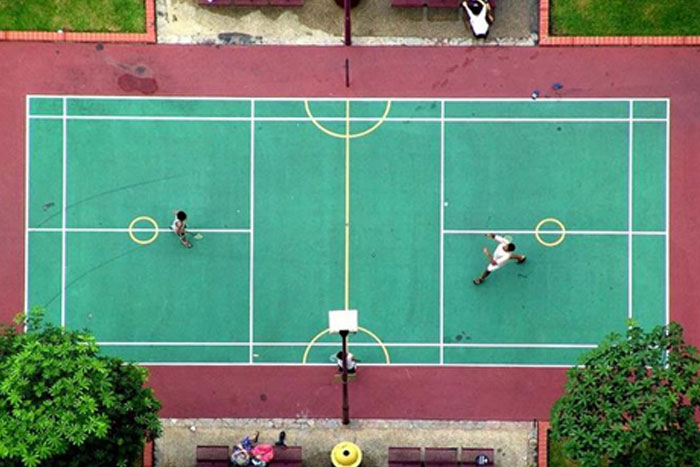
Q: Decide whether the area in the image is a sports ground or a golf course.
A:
sports ground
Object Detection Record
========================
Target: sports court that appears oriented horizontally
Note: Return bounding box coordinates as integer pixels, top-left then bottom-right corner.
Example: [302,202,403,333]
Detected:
[25,96,669,366]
